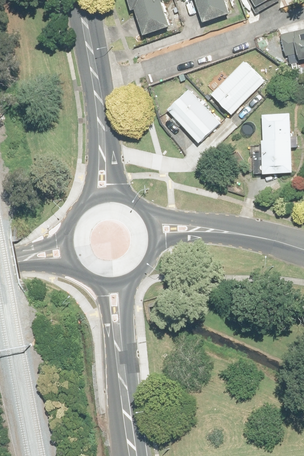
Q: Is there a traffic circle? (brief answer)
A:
Yes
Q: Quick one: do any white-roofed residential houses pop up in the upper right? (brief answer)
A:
Yes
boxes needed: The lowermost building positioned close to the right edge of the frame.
[252,112,298,174]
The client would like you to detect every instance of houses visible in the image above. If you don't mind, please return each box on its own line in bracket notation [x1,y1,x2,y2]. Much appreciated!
[167,89,222,144]
[252,112,298,174]
[210,60,266,114]
[251,0,279,14]
[194,0,228,22]
[280,30,304,62]
[128,0,168,34]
